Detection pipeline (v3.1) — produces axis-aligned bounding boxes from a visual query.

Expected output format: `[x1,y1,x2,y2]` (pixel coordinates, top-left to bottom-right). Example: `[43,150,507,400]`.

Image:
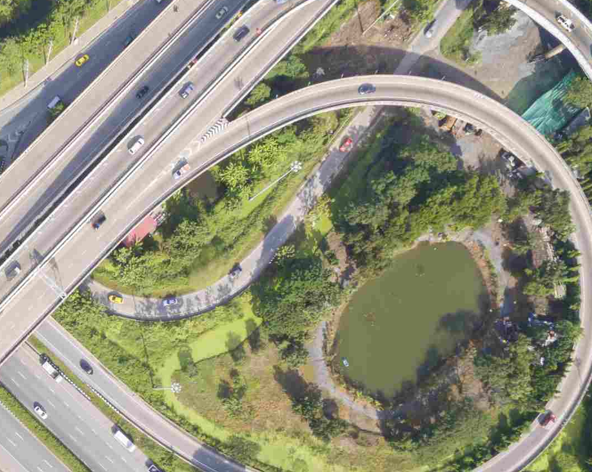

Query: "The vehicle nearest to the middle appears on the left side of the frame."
[225,264,245,282]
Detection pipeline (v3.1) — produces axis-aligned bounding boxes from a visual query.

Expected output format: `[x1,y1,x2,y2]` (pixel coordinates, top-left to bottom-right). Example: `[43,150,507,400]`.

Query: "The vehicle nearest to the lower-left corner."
[31,403,48,419]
